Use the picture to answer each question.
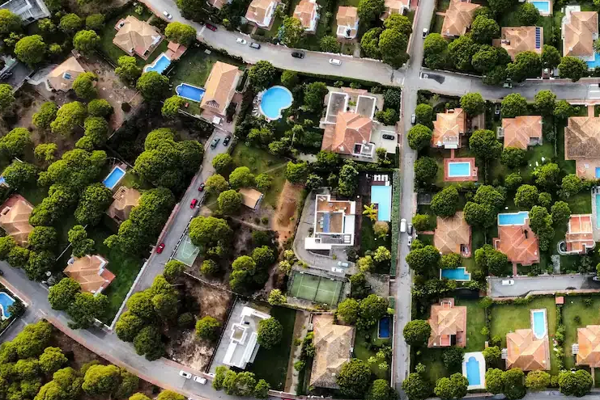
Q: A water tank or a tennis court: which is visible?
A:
tennis court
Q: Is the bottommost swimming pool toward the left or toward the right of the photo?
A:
right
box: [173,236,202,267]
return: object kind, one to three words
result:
basketball court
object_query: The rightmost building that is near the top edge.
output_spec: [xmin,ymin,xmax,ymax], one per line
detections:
[561,3,598,63]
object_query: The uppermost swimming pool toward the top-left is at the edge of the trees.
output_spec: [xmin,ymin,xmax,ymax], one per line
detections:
[140,48,175,72]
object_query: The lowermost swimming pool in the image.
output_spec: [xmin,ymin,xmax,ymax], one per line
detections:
[461,350,487,392]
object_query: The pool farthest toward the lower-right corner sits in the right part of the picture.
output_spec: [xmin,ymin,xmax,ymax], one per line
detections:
[531,308,549,331]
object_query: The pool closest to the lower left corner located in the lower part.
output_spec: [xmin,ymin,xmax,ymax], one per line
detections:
[0,289,16,322]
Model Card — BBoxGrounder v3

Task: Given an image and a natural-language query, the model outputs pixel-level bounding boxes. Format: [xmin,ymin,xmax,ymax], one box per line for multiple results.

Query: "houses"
[430,298,467,343]
[109,184,135,222]
[304,194,359,250]
[384,0,419,17]
[493,228,539,266]
[434,210,472,256]
[564,119,600,160]
[43,57,91,99]
[336,5,360,40]
[561,3,598,63]
[238,191,262,208]
[558,215,595,255]
[0,192,32,248]
[573,323,600,366]
[307,312,359,392]
[438,0,485,41]
[496,117,542,152]
[493,24,543,60]
[323,91,380,166]
[198,61,243,126]
[220,302,277,372]
[67,255,121,293]
[291,0,326,38]
[433,108,467,150]
[501,324,550,372]
[114,15,166,63]
[244,0,286,33]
